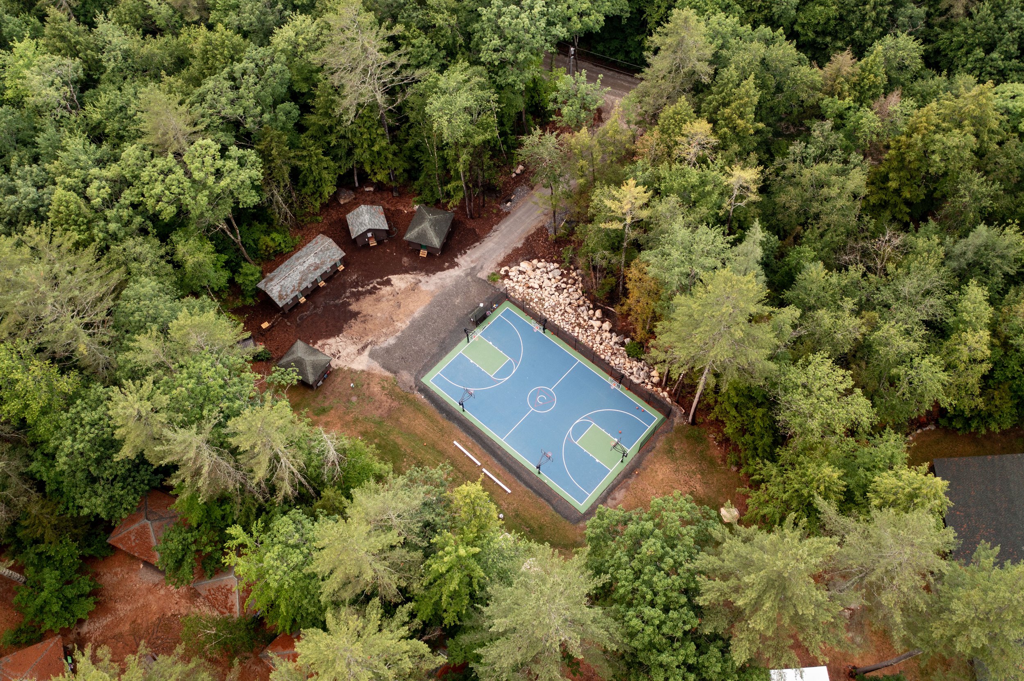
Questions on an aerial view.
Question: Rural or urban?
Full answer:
The land in this view is best described as rural.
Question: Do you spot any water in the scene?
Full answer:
No, water can't be seen anywhere here.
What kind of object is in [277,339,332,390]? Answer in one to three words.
building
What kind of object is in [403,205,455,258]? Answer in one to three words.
building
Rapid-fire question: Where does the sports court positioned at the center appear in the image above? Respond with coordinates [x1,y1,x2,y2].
[422,300,666,514]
